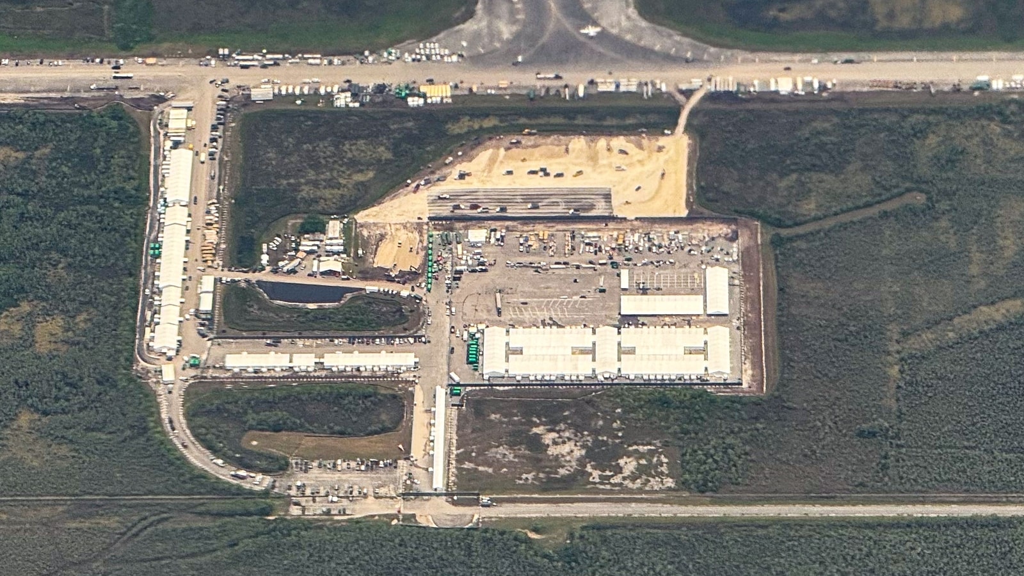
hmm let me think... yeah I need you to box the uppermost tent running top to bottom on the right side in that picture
[706,266,729,317]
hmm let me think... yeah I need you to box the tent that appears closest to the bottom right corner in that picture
[708,326,730,377]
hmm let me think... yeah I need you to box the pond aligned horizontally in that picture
[257,280,364,304]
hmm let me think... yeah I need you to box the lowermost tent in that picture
[433,385,446,490]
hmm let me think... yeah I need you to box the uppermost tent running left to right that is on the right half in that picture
[621,296,704,317]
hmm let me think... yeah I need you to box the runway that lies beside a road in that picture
[0,61,1024,83]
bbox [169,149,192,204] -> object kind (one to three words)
tent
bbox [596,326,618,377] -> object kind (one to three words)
tent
